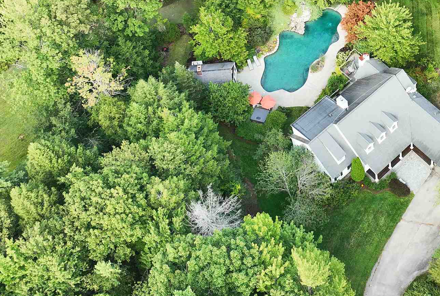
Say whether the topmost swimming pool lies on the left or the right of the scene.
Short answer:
right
